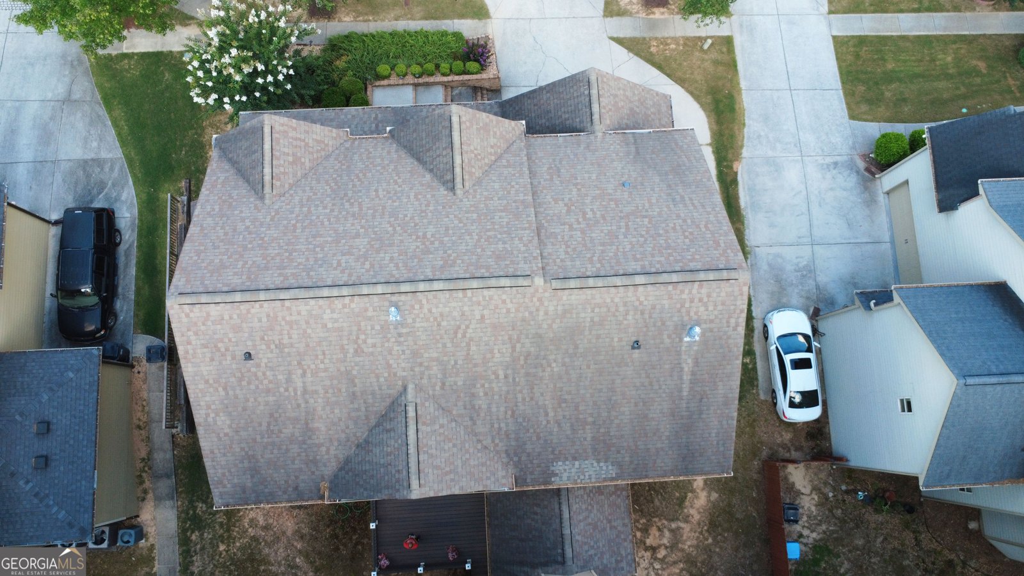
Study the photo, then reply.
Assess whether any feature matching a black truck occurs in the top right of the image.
No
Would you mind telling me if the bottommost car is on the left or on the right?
right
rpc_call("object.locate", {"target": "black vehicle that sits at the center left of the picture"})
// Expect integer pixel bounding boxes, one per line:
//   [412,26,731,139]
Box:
[48,206,122,342]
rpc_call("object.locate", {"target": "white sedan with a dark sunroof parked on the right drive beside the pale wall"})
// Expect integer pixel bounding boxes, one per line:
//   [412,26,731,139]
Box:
[763,309,822,423]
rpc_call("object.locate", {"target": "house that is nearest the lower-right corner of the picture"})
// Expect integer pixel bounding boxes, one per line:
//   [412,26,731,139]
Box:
[815,105,1024,563]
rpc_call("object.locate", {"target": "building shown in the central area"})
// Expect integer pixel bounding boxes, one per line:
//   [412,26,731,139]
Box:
[167,68,748,576]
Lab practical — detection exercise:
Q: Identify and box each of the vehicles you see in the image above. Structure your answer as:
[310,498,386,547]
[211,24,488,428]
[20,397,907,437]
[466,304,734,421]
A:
[763,309,822,423]
[48,206,122,342]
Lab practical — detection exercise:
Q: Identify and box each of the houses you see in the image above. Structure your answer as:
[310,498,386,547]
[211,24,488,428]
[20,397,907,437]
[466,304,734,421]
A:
[167,68,748,576]
[0,184,140,553]
[815,105,1024,563]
